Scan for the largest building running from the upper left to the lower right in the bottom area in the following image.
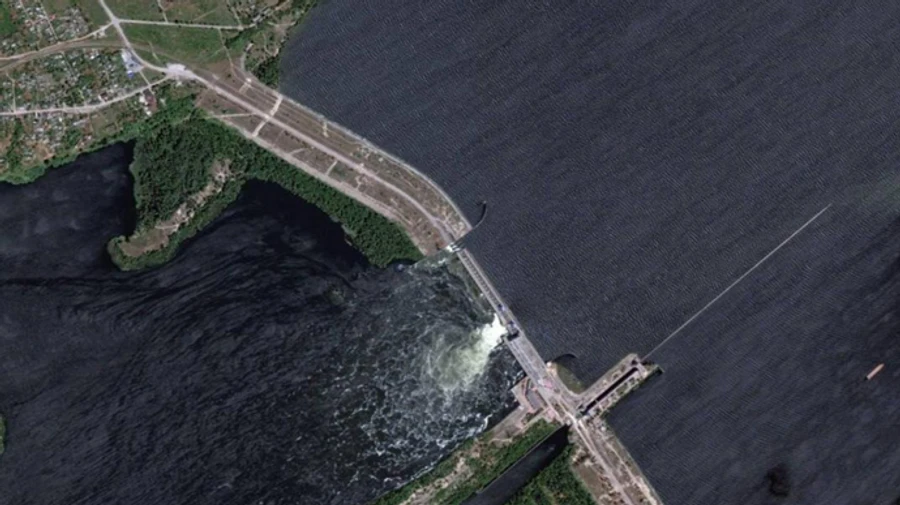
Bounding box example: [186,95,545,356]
[507,331,551,385]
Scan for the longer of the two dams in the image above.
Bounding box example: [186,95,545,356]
[192,53,468,256]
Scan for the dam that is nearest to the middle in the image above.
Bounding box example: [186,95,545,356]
[458,249,519,334]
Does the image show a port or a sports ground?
port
